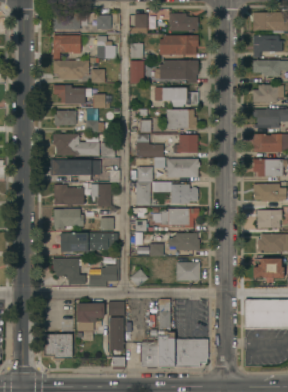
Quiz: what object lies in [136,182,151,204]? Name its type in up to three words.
building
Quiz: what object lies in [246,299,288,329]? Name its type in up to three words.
building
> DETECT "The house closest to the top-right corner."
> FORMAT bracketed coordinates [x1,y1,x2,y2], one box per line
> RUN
[254,11,288,30]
